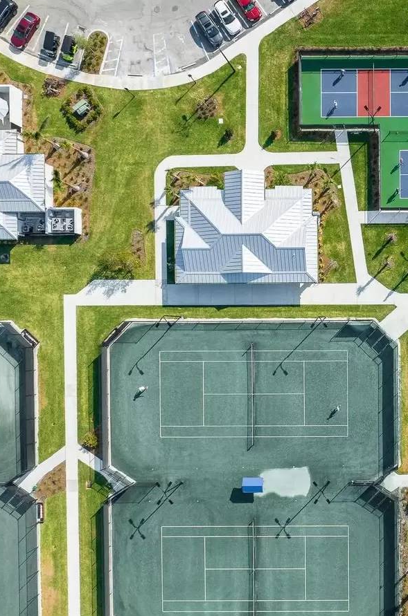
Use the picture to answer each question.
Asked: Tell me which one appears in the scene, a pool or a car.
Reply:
car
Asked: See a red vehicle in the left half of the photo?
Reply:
Yes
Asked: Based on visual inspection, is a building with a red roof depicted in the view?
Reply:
No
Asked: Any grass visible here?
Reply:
Yes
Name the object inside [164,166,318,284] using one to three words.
building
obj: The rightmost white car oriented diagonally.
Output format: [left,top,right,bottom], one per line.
[212,0,242,38]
